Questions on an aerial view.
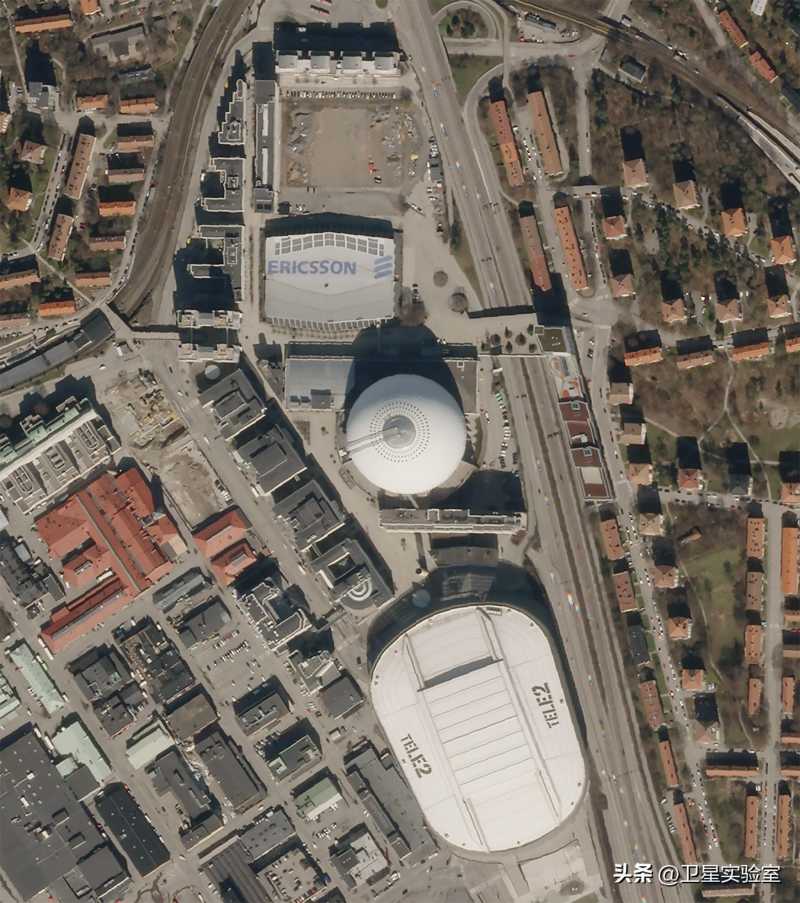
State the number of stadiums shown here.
2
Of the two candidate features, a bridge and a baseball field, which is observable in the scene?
bridge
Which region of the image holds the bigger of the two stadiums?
bottom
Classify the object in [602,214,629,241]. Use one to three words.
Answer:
house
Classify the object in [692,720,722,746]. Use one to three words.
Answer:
house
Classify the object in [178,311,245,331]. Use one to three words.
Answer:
building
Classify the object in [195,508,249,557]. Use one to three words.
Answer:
building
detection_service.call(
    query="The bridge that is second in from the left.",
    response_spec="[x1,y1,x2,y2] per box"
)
[468,310,544,356]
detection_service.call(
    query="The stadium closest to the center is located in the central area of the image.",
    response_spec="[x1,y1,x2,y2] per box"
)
[345,375,466,495]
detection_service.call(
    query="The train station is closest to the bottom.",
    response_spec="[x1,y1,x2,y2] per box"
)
[0,308,114,388]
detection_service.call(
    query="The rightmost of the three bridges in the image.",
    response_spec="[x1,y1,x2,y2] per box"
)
[565,183,624,198]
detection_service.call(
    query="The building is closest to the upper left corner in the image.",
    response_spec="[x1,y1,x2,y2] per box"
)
[16,15,73,33]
